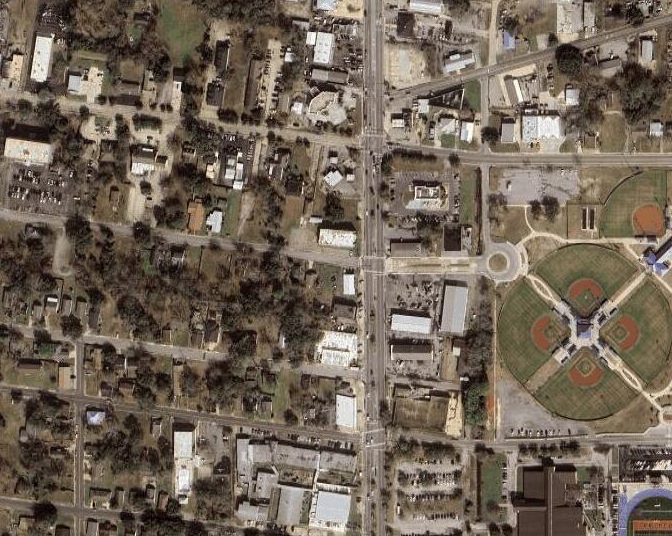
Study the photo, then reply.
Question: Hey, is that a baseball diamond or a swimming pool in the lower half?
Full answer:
Visible in the lower half is a baseball diamond.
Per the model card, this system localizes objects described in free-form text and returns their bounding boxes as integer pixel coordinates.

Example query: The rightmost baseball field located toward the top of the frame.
[601,170,666,237]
